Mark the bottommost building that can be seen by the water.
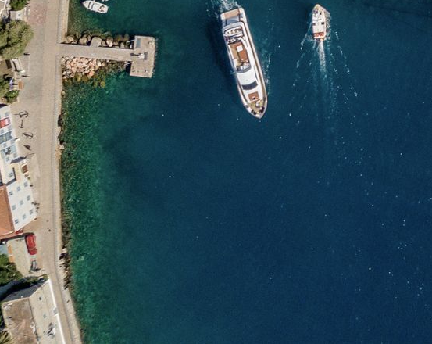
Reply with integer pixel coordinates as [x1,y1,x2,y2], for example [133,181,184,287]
[2,270,80,344]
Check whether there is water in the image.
Yes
